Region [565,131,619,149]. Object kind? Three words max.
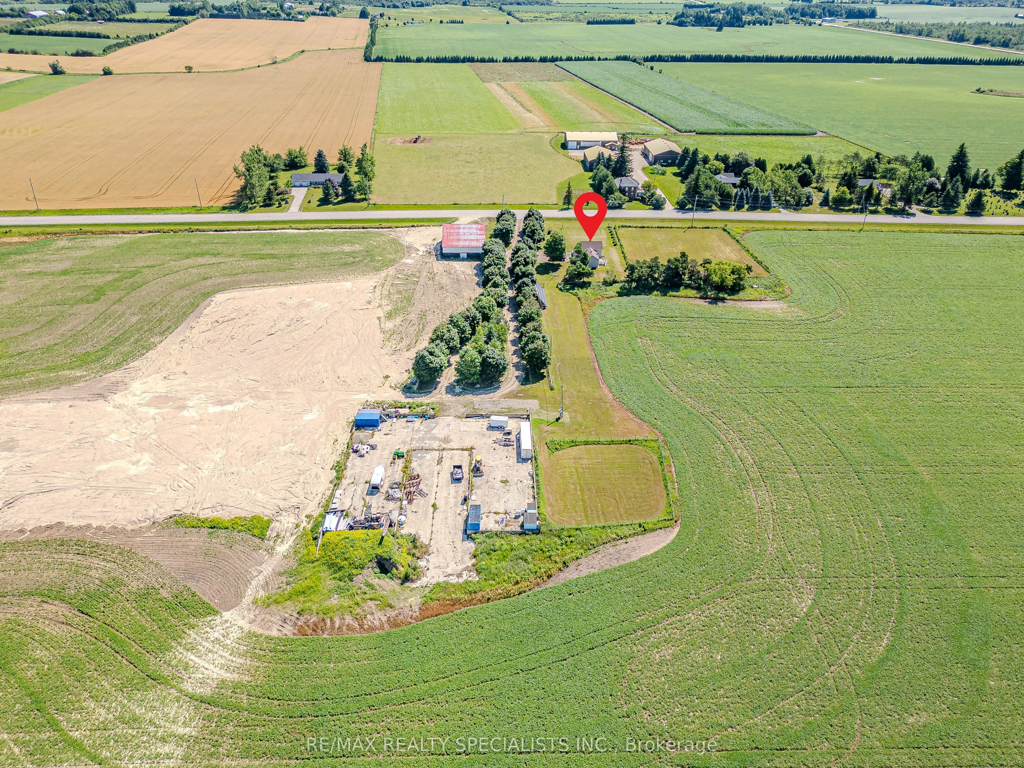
barn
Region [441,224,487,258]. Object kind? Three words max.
barn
